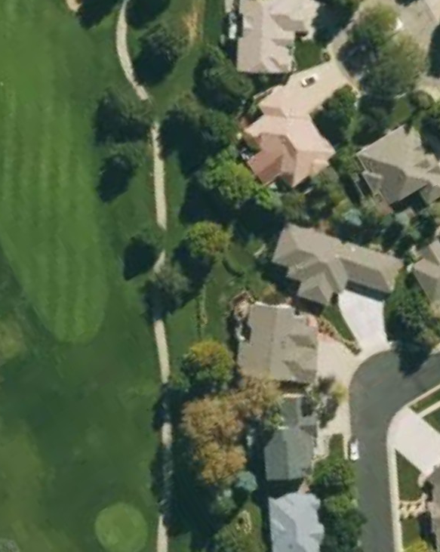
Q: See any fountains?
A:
No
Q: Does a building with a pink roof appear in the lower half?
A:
No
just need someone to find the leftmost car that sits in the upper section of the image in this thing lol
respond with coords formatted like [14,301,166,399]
[300,73,321,87]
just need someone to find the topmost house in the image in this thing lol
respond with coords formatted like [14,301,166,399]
[236,0,322,75]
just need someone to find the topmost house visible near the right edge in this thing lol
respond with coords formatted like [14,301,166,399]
[360,123,440,206]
